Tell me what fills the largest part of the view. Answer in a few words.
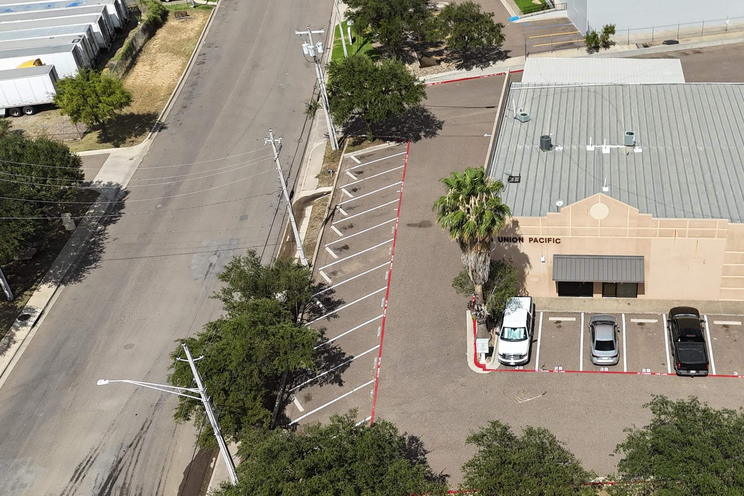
paved ground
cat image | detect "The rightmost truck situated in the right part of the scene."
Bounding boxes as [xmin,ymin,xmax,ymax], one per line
[667,313,706,377]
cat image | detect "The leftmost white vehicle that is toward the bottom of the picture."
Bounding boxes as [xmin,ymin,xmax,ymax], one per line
[495,298,534,365]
